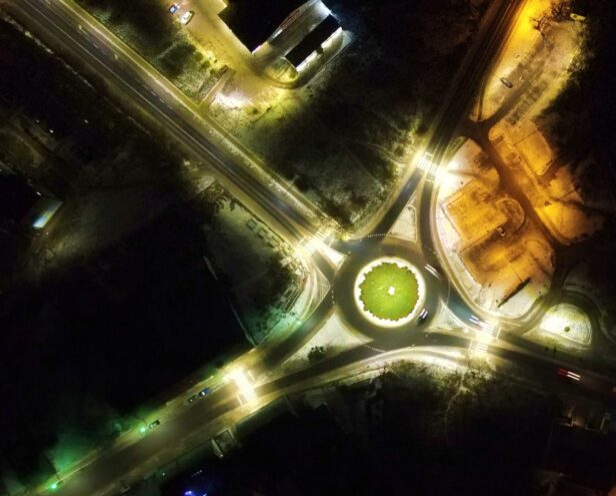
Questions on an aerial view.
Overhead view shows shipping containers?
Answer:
No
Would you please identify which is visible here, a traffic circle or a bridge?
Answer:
traffic circle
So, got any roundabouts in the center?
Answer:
Yes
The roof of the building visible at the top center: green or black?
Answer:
black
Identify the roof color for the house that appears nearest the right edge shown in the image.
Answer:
black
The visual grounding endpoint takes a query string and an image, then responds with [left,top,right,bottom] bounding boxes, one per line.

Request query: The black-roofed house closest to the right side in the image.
[545,422,616,494]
